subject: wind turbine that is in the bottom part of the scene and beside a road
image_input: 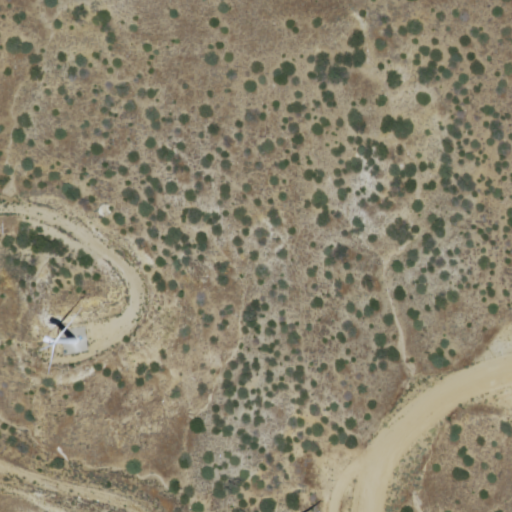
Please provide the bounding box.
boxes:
[36,310,82,373]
